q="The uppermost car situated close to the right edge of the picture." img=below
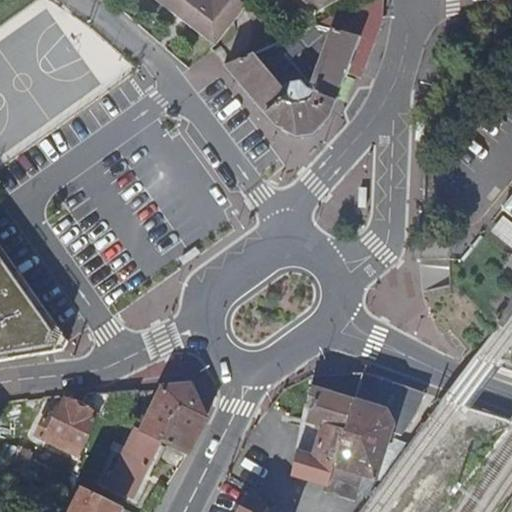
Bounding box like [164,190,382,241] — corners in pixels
[483,124,502,138]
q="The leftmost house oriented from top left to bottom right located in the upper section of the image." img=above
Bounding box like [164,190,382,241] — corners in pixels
[224,52,282,110]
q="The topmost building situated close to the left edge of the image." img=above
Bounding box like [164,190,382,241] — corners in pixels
[0,244,68,364]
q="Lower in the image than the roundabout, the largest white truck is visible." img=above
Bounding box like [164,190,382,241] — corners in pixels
[239,457,268,478]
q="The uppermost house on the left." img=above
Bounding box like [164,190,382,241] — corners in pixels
[156,0,244,43]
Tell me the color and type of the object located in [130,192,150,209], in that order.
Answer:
gray car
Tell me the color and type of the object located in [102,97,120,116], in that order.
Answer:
white car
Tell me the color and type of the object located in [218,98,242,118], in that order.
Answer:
white vehicle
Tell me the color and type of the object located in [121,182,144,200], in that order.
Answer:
white car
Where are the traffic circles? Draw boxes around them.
[226,266,322,352]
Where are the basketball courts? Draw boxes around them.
[0,0,134,164]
